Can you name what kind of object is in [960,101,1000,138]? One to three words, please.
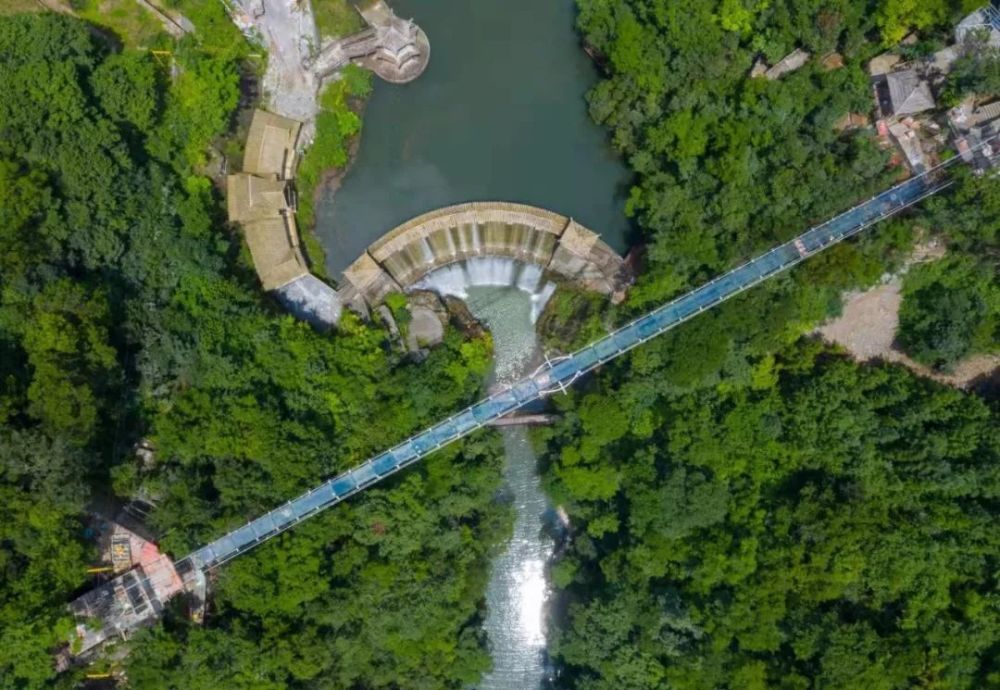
shed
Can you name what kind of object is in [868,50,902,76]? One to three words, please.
shed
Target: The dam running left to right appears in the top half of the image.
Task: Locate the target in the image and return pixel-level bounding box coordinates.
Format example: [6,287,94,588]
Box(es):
[378,222,561,287]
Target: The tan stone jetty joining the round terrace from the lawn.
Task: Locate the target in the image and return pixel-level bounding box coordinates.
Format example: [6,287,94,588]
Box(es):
[361,0,394,27]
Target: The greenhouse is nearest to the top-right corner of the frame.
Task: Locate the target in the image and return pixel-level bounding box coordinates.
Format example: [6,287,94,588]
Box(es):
[942,3,1000,57]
